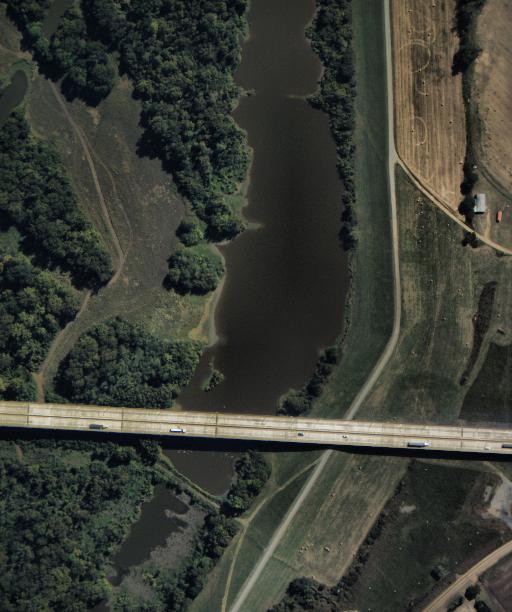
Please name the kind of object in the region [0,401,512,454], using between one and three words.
bridge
